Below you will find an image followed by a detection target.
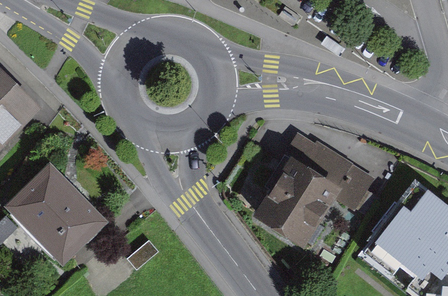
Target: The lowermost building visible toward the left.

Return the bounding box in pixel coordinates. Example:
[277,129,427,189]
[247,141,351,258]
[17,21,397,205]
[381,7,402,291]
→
[126,241,158,271]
